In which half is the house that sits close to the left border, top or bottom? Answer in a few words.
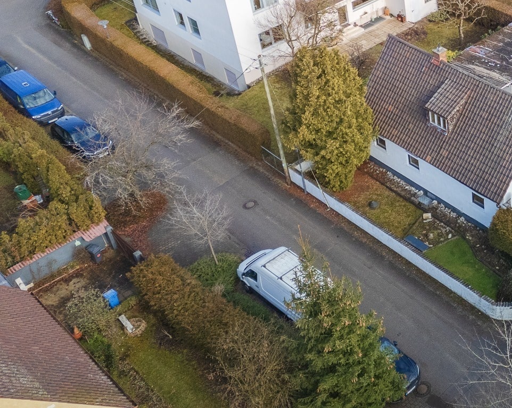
bottom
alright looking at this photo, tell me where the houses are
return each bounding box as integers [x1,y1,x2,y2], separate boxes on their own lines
[0,288,146,408]
[365,31,512,231]
[132,0,392,86]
